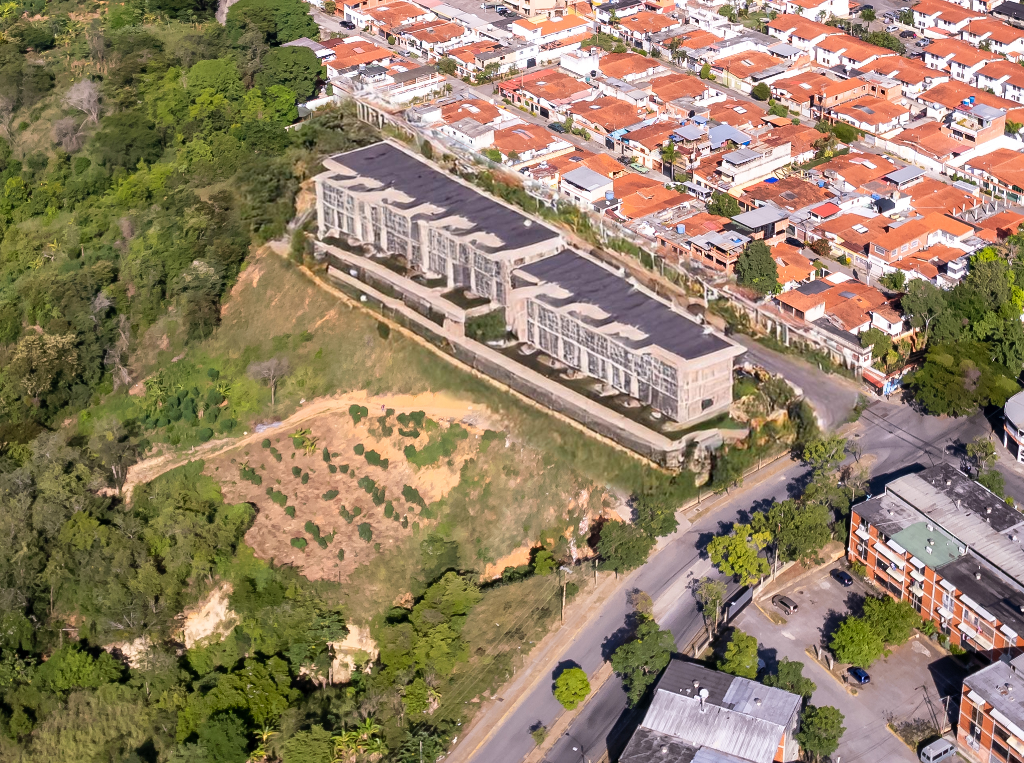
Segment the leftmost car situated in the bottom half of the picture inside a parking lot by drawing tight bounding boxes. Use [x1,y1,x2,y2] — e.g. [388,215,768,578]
[768,593,802,614]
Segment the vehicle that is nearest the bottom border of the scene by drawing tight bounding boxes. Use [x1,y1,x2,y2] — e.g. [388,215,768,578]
[916,736,960,763]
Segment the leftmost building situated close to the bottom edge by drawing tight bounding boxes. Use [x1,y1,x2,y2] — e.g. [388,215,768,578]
[620,656,811,763]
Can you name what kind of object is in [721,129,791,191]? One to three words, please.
house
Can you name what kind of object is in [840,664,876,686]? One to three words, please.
car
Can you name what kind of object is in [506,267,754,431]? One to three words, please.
building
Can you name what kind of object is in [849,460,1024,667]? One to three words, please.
building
